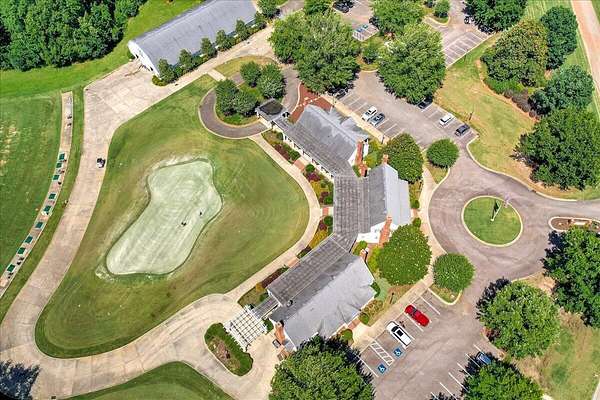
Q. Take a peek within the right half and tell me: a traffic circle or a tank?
traffic circle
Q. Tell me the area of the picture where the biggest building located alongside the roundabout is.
center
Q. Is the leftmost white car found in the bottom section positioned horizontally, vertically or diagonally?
diagonally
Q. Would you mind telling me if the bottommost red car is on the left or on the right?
right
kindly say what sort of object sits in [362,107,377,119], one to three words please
vehicle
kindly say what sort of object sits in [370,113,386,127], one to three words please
vehicle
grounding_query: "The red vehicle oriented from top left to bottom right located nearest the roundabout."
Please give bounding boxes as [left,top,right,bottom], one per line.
[406,305,429,327]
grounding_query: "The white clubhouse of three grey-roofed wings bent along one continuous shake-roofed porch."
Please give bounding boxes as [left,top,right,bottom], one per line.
[253,103,412,348]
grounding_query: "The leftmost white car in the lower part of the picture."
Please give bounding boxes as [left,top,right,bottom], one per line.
[387,322,412,347]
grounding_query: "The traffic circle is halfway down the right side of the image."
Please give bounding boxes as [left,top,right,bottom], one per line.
[444,182,542,262]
